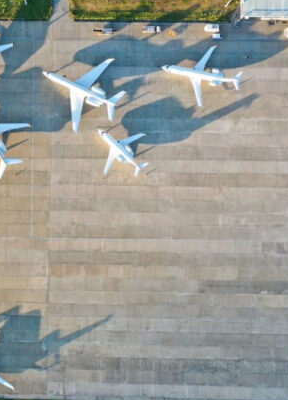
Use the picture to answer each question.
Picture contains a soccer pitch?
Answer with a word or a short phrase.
No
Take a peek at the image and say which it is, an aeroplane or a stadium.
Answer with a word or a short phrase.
aeroplane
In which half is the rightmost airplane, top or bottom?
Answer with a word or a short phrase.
top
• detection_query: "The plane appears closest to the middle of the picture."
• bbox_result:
[99,130,150,177]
